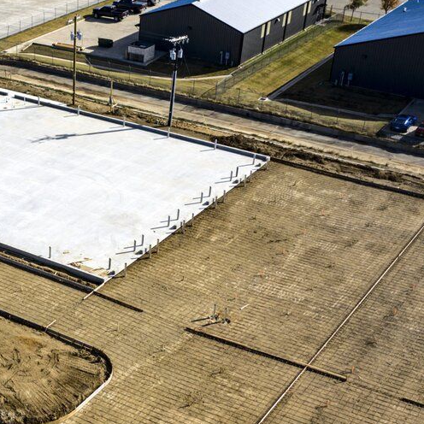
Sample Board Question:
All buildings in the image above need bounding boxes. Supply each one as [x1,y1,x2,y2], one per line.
[328,0,424,99]
[127,0,334,65]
